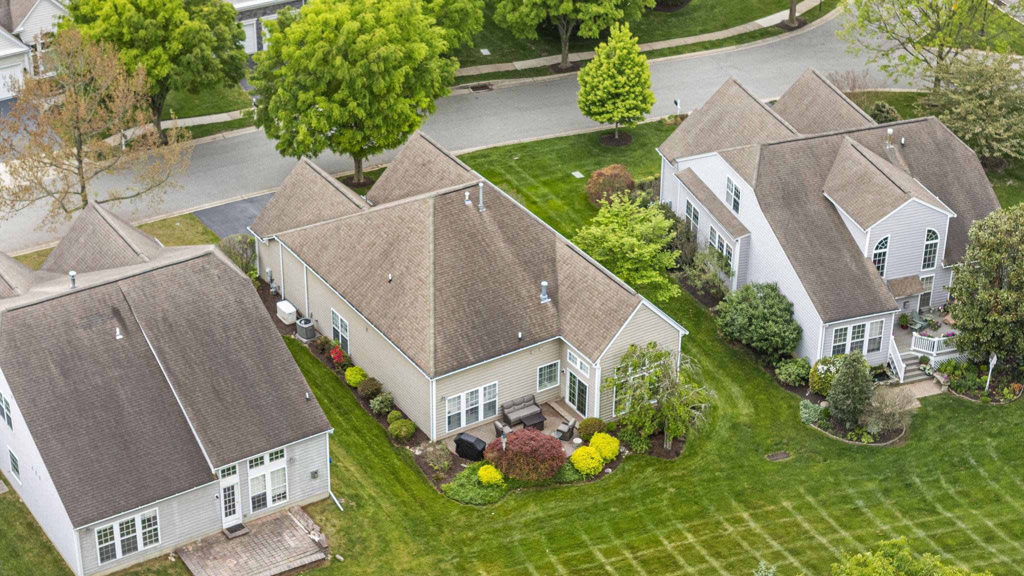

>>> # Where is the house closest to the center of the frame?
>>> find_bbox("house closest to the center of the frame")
[247,130,689,438]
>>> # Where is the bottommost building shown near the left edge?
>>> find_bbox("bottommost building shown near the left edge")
[0,201,335,576]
